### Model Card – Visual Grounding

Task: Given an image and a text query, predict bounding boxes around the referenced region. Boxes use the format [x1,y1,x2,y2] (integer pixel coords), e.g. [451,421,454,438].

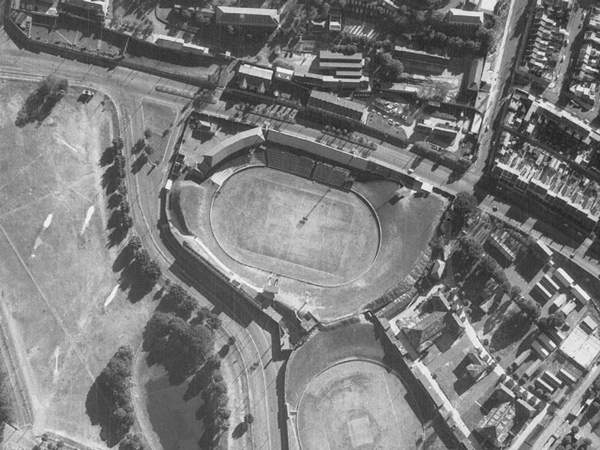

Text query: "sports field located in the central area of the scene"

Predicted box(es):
[210,166,380,287]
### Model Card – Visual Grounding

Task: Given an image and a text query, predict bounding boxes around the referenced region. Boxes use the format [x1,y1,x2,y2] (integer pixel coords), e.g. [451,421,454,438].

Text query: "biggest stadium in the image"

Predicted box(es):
[167,107,452,352]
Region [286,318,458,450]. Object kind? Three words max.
sports field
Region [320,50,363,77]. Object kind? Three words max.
building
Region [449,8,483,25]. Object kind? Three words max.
house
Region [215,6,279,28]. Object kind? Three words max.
building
